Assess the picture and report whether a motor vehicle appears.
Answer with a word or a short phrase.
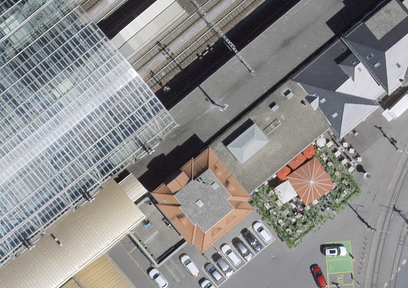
Yes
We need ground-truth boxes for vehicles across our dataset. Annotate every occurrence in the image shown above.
[241,227,266,254]
[252,219,276,246]
[325,246,349,258]
[220,242,244,268]
[179,254,202,279]
[212,252,236,280]
[380,90,408,124]
[148,266,170,288]
[311,264,328,288]
[204,261,226,286]
[200,277,218,288]
[232,236,256,264]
